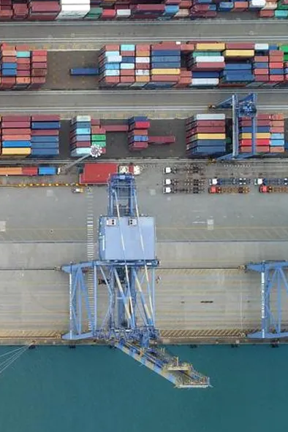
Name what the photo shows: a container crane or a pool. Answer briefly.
container crane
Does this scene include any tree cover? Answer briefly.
No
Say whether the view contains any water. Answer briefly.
Yes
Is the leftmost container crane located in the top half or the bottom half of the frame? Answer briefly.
bottom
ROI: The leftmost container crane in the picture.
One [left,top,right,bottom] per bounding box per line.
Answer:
[56,174,208,389]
